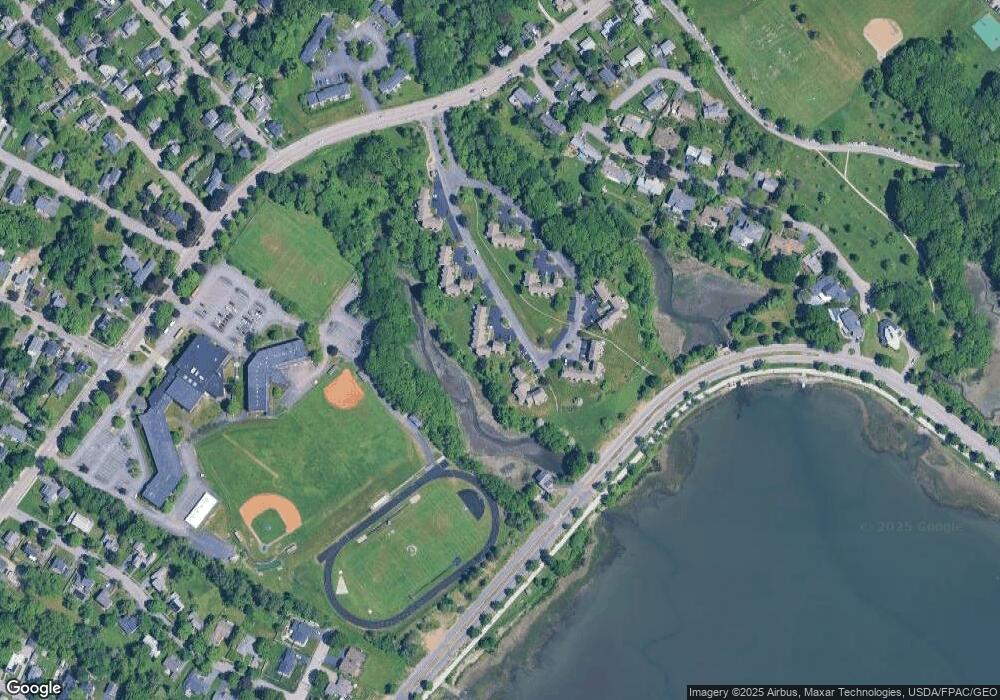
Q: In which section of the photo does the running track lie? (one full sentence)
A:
Look in the bottom portion of the view to spot the running track.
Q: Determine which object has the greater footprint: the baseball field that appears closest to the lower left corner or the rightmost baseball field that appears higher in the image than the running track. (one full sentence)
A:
The baseball field that appears closest to the lower left corner takes up more space than the rightmost baseball field that appears higher in the image than the running track does.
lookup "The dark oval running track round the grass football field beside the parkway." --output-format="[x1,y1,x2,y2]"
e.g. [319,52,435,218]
[316,461,500,631]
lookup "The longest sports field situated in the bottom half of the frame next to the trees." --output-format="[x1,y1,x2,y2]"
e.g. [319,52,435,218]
[332,477,492,622]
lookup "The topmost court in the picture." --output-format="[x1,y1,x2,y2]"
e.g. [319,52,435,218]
[972,13,1000,52]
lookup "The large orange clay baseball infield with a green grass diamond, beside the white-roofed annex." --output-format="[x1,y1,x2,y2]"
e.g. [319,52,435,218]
[240,494,302,561]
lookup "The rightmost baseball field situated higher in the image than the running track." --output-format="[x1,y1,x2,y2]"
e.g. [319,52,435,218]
[324,369,364,409]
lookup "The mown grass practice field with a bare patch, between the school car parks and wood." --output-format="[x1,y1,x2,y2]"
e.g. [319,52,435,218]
[229,203,353,321]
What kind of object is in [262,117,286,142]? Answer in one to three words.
house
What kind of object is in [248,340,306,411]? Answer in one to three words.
building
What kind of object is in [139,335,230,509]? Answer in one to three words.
building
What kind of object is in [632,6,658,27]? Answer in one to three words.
house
